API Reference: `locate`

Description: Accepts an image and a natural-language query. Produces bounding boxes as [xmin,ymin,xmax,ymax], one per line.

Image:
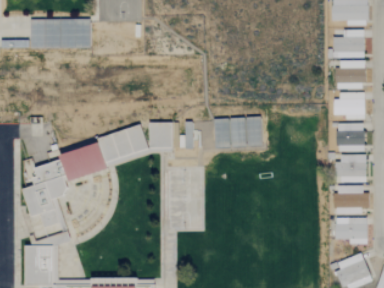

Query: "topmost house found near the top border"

[332,0,370,26]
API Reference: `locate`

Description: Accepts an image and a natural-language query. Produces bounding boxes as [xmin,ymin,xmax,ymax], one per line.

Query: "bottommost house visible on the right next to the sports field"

[332,253,372,288]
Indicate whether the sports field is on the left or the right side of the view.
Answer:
right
